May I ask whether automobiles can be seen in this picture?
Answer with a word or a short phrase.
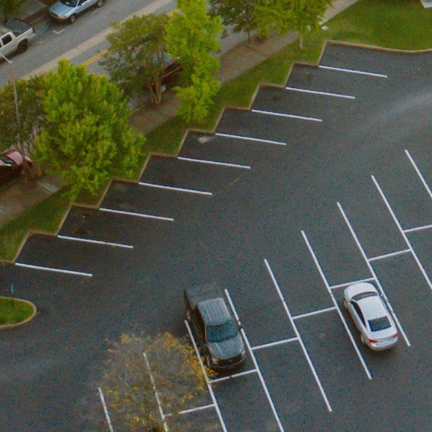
Yes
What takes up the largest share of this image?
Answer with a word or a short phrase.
paved ground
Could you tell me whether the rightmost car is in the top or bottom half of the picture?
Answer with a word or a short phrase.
bottom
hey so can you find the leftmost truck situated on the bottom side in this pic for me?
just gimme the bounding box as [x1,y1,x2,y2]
[186,284,245,367]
